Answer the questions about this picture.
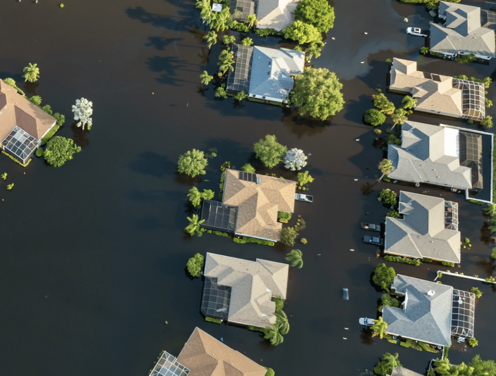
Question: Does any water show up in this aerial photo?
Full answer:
Yes, water can be seen from above here.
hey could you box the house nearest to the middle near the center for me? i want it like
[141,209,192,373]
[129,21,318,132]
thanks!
[200,168,296,242]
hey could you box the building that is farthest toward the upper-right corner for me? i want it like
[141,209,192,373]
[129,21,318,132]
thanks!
[429,2,496,61]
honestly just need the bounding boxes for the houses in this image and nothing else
[149,327,267,376]
[387,57,489,123]
[225,43,305,103]
[380,276,474,347]
[228,0,307,35]
[429,2,496,61]
[0,78,57,166]
[200,168,296,242]
[386,121,484,192]
[198,253,289,328]
[382,191,461,264]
